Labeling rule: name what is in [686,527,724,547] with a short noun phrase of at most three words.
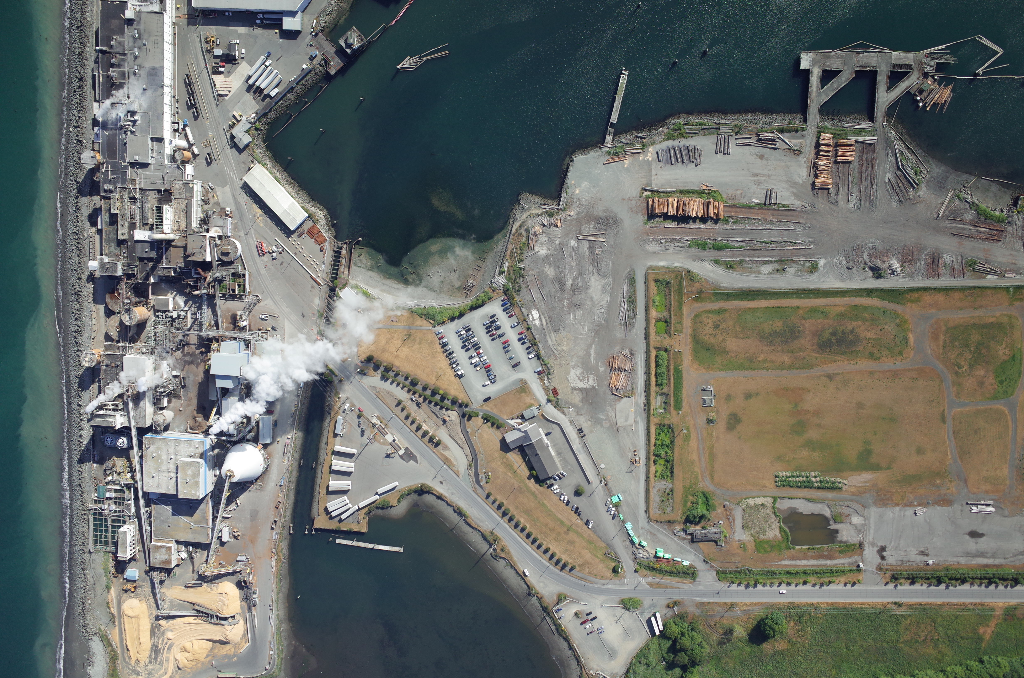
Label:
building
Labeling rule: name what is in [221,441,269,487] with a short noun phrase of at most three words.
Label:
silo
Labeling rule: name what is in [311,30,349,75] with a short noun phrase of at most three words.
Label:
pier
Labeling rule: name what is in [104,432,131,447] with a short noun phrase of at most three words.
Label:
cooling tower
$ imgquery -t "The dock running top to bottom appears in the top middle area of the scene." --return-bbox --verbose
[604,71,628,144]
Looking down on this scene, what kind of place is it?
port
